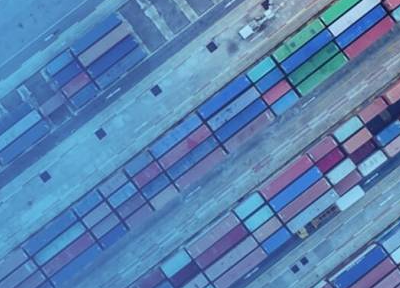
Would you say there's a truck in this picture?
Yes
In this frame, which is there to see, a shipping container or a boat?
shipping container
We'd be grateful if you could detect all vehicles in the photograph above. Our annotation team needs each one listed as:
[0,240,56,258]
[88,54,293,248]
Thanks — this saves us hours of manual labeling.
[239,0,273,36]
[294,198,351,243]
